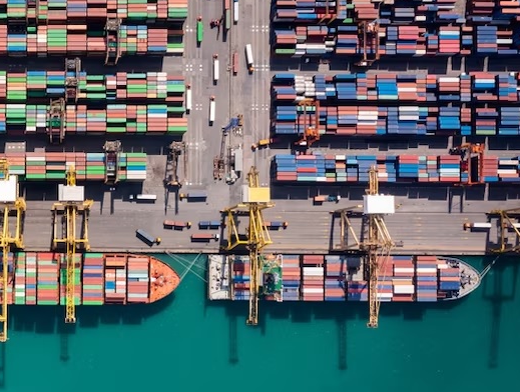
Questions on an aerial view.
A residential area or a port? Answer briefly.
port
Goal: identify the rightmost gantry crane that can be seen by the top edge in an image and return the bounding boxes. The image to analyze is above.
[347,19,381,70]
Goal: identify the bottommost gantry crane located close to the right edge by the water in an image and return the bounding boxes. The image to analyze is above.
[477,206,520,262]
